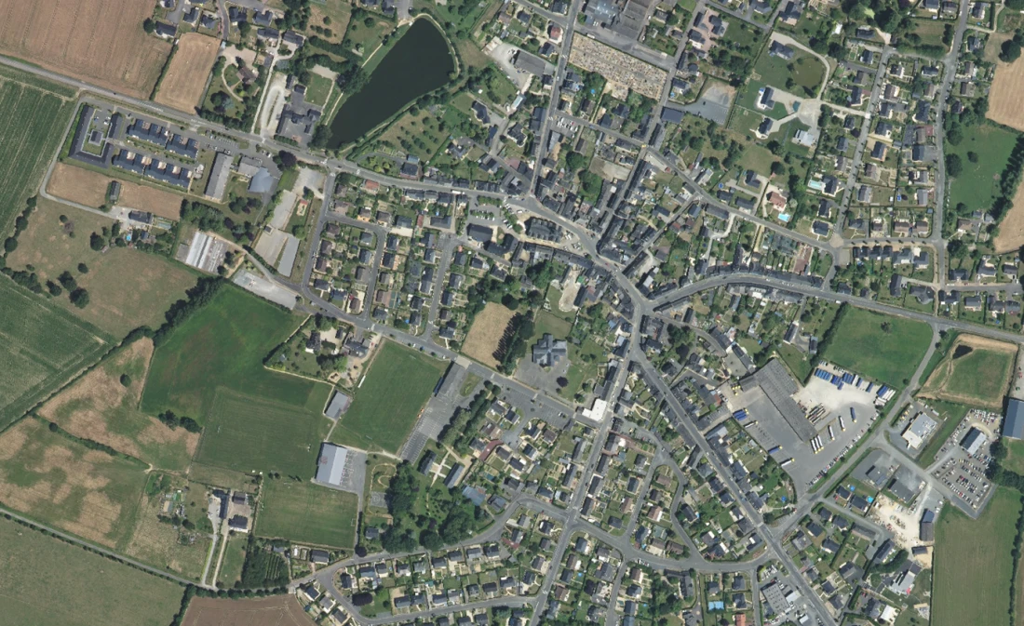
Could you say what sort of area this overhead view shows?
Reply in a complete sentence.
This looks like a residential area.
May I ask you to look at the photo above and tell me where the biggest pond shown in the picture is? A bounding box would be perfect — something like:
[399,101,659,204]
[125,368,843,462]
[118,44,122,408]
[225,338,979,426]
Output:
[327,17,455,148]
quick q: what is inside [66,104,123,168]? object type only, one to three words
building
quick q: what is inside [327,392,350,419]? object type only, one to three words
house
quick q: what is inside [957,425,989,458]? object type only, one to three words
building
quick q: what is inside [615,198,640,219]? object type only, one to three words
house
